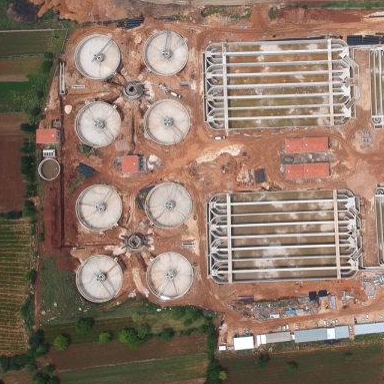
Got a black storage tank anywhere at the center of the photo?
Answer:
No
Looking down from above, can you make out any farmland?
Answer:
Yes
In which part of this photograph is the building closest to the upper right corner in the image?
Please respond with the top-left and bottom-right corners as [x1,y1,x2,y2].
[285,137,328,154]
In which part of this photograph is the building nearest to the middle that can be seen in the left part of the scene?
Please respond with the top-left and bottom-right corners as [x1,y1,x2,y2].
[121,156,147,172]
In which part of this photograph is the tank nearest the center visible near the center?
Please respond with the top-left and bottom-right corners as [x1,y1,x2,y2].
[145,179,192,228]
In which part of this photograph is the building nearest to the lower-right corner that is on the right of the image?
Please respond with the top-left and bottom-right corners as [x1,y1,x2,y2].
[353,321,384,335]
